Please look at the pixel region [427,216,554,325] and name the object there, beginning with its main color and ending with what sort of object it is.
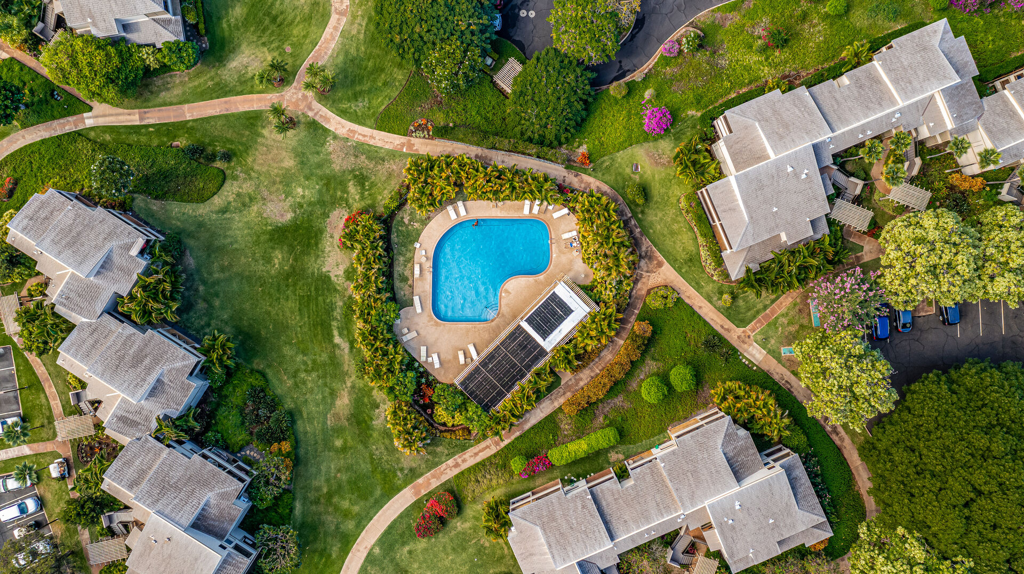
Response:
blue swimming pool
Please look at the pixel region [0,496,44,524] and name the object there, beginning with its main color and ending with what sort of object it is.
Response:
white car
